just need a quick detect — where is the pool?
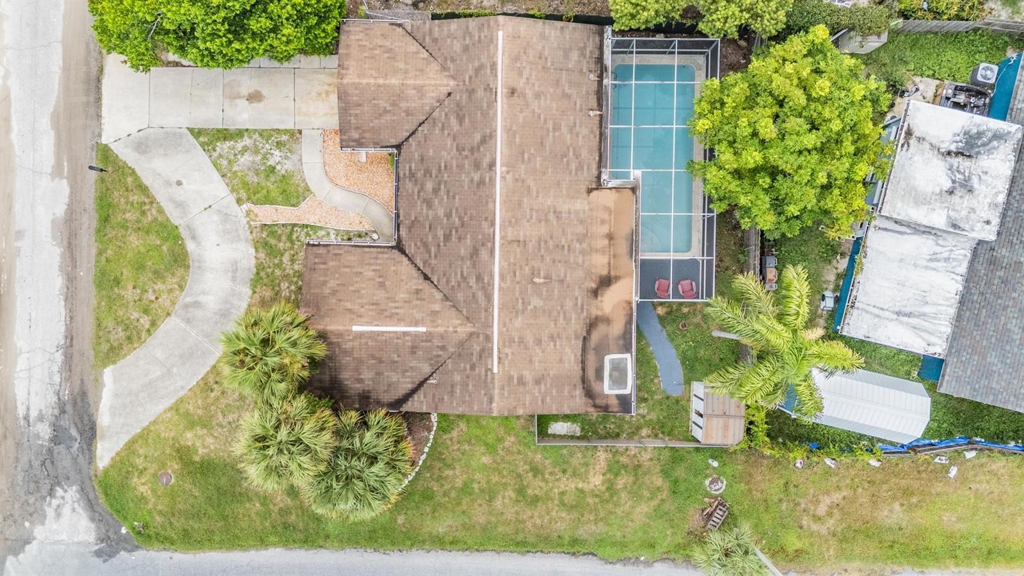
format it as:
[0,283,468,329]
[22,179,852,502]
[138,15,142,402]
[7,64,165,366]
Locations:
[609,60,698,256]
